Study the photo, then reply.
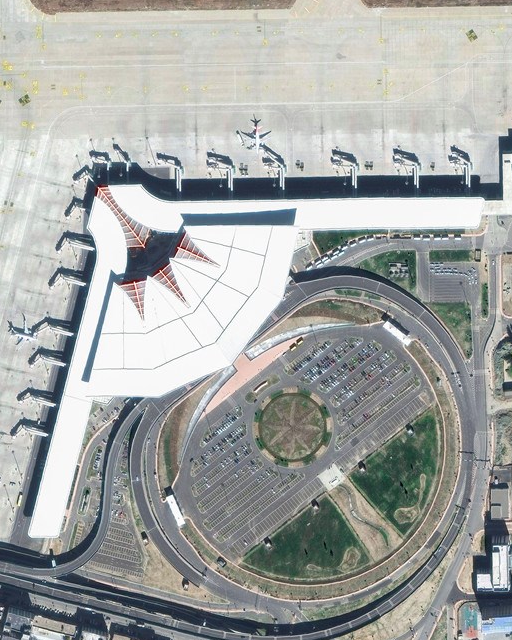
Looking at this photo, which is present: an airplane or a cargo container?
airplane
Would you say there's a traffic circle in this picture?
Yes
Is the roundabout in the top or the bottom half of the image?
bottom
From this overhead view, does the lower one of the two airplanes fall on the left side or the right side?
left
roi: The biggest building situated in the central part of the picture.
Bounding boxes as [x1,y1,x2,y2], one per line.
[28,179,486,538]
